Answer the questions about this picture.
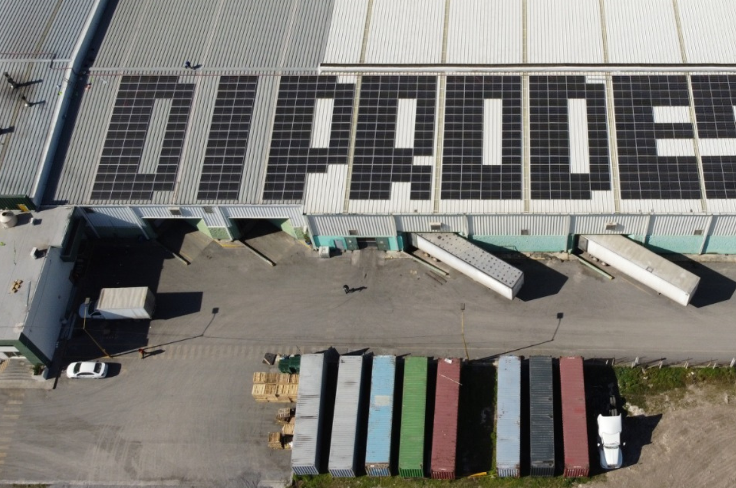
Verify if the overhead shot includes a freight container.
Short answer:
Yes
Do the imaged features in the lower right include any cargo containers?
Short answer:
Yes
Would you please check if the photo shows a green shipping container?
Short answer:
Yes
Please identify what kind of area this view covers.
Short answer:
industrial area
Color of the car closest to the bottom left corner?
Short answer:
white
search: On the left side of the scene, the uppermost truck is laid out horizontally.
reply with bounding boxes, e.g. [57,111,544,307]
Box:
[77,288,153,319]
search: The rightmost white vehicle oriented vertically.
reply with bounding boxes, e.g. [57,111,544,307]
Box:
[595,390,623,471]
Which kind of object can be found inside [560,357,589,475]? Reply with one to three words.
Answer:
shipping container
